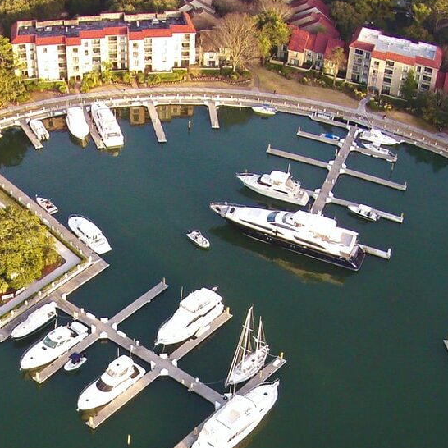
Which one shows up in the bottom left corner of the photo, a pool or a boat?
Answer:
boat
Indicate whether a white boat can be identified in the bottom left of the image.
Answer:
Yes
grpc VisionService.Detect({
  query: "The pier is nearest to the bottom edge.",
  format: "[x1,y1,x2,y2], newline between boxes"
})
[172,401,225,448]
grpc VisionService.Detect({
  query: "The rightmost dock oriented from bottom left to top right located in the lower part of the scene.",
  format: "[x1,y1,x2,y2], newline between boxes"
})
[229,357,290,398]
